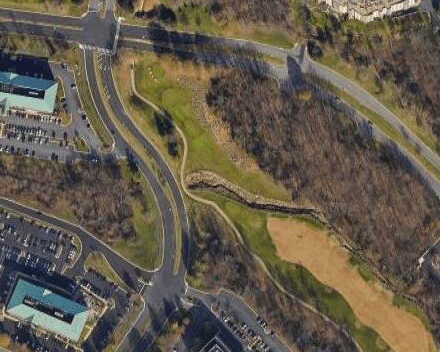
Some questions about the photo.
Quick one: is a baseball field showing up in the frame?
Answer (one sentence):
No, there appears to be no baseball field in this shot.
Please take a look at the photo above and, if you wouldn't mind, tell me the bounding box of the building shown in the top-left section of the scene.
[0,70,58,113]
